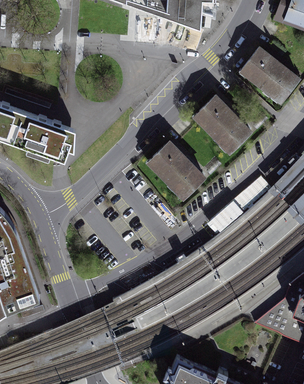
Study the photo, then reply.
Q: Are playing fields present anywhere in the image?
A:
No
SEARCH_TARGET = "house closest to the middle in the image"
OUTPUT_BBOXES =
[146,140,207,202]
